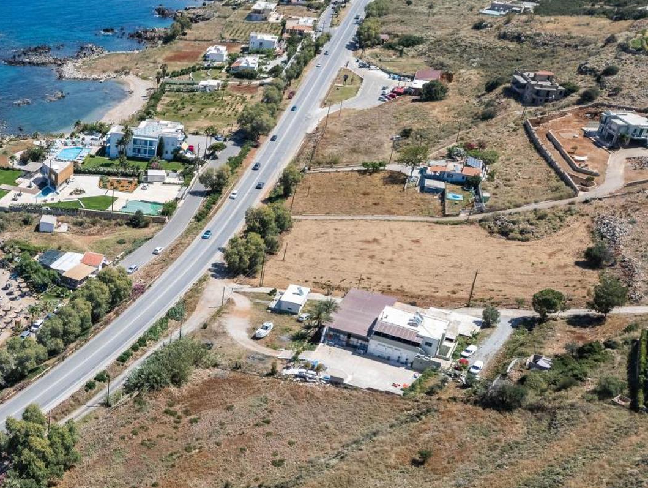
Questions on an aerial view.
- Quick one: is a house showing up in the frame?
Yes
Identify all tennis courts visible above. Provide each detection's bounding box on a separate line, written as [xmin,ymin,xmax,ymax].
[121,200,161,215]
